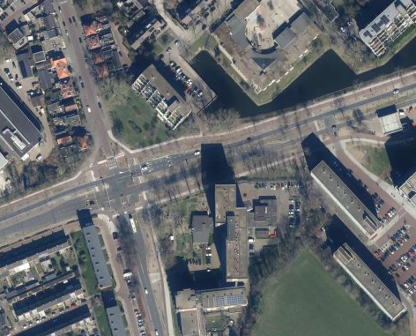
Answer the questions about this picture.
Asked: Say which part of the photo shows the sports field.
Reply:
bottom right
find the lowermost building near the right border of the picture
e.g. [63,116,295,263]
[332,243,407,324]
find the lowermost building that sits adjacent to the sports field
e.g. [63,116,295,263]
[176,288,248,336]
